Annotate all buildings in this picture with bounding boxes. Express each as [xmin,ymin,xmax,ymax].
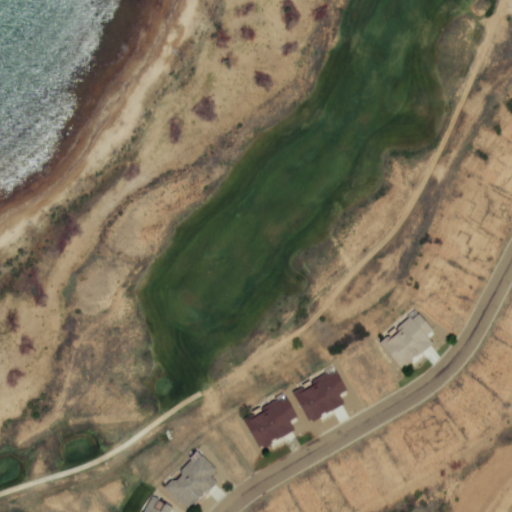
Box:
[381,312,434,368]
[142,496,175,512]
[293,368,346,422]
[164,452,216,508]
[244,396,298,450]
